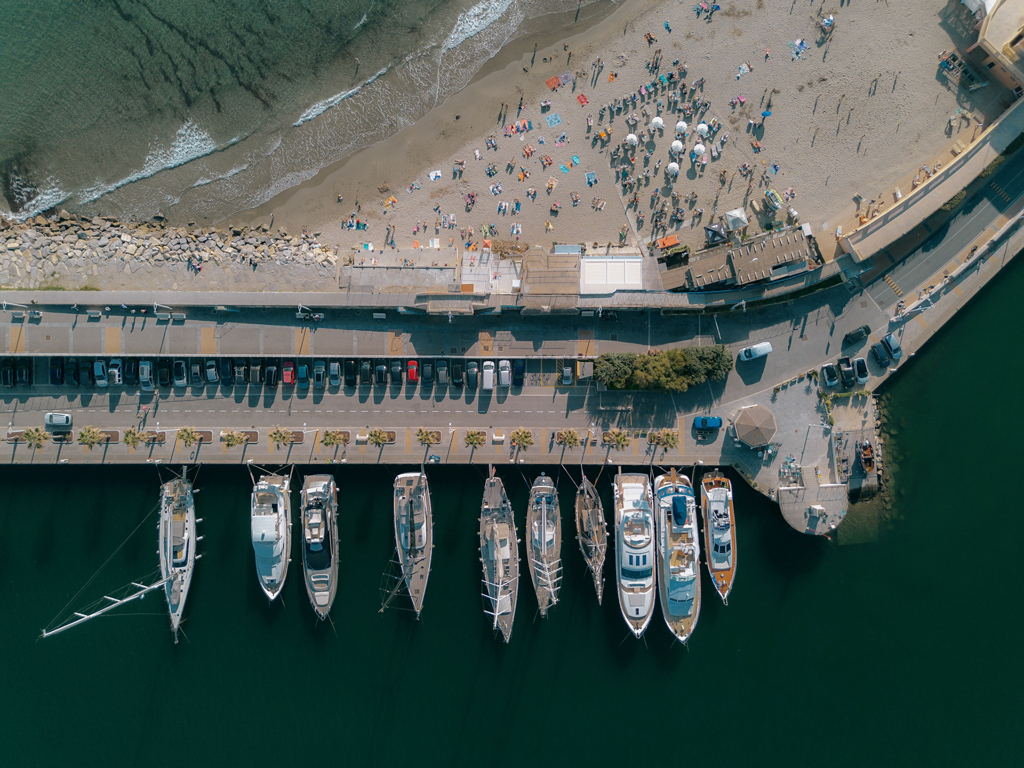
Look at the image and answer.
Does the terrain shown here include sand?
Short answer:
Yes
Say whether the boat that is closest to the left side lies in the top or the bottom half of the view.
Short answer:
bottom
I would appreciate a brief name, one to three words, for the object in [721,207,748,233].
tent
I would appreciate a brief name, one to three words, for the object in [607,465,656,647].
boat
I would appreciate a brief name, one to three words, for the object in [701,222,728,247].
tent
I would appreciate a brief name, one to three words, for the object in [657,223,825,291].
building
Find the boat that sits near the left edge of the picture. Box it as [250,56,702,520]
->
[40,463,201,644]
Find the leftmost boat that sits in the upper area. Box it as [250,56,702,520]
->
[655,235,681,249]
